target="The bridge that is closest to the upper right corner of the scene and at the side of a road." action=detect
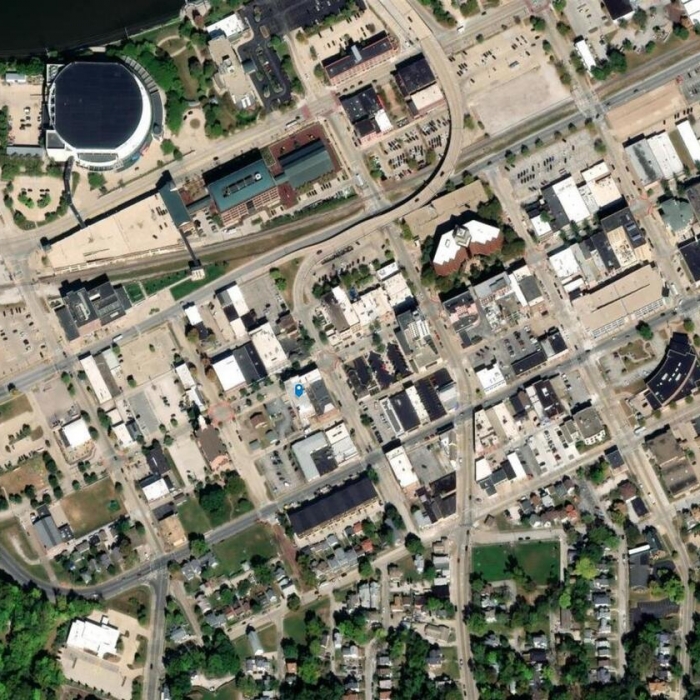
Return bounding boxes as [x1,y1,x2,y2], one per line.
[294,0,466,262]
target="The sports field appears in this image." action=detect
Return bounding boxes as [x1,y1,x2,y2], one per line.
[472,541,561,582]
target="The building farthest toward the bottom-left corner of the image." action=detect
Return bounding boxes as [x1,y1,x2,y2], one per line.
[66,620,122,662]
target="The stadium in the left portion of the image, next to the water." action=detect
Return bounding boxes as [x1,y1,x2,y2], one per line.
[46,53,164,176]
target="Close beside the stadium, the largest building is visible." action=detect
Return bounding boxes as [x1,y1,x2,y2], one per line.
[50,193,181,275]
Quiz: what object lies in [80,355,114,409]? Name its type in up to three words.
building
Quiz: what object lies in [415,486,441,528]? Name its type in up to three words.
building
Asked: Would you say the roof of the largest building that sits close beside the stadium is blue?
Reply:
No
